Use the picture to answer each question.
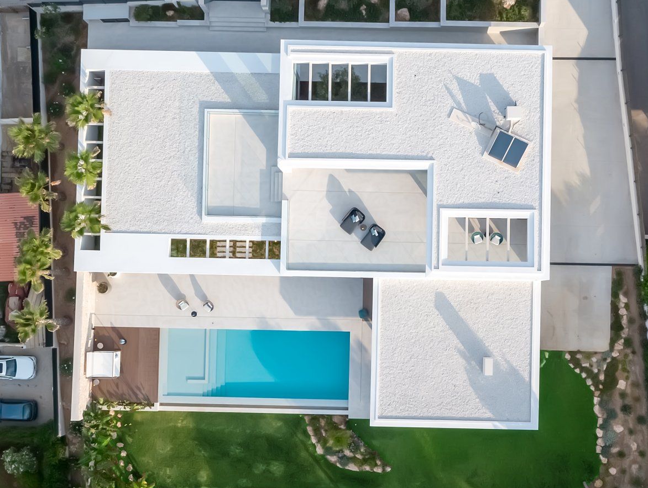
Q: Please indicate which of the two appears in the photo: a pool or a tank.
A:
pool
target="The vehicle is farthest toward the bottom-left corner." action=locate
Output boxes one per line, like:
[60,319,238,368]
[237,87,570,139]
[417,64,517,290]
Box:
[0,397,39,424]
